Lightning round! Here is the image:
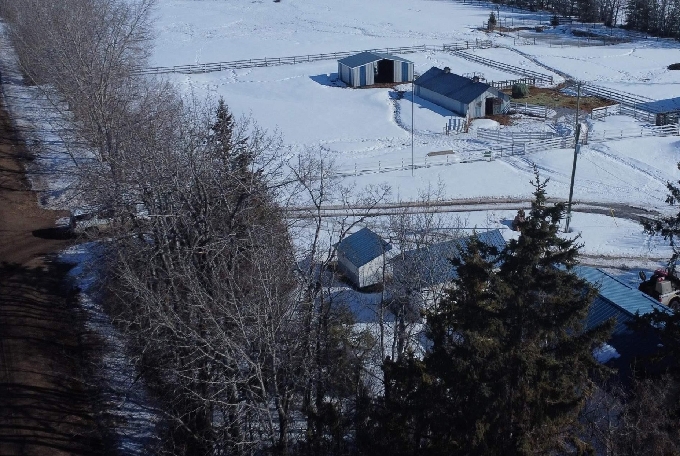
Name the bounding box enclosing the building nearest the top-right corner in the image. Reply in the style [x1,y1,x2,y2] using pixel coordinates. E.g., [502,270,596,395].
[419,66,511,117]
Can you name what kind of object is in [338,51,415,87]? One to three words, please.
shed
